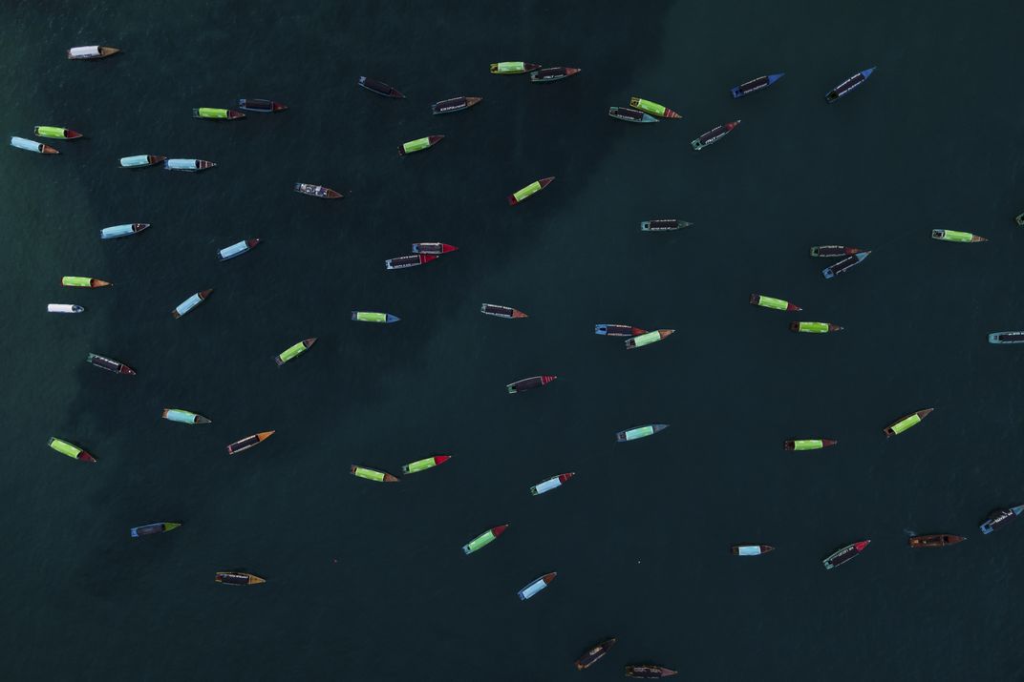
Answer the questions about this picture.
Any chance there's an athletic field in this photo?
No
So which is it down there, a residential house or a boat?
boat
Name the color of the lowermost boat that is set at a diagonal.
black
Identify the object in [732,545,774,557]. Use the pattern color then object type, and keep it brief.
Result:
blue boat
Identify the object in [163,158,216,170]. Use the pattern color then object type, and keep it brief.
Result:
blue boat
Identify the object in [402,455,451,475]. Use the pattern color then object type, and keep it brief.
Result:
green boat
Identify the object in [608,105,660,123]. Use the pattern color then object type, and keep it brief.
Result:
black boat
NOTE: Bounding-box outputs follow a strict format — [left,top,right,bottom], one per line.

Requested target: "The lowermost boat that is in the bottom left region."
[214,573,266,585]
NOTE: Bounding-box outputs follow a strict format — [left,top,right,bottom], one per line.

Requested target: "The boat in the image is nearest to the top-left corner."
[66,46,121,58]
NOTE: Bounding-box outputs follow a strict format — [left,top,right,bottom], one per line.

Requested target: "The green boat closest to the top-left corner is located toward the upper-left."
[33,126,83,139]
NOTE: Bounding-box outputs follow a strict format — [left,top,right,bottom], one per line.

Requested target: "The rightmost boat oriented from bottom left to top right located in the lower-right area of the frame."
[980,503,1024,535]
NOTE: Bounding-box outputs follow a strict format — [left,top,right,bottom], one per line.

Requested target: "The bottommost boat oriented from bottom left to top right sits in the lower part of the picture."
[574,639,616,671]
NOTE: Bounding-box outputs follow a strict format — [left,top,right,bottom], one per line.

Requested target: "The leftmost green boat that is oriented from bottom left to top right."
[274,337,318,366]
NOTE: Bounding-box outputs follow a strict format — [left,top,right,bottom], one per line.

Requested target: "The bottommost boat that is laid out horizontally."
[625,666,677,678]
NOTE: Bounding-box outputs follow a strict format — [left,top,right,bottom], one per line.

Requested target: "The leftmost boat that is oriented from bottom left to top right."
[171,289,214,320]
